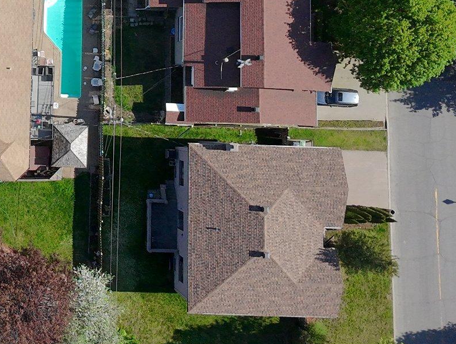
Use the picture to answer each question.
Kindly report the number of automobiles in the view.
1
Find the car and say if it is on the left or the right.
right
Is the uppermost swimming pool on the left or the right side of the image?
left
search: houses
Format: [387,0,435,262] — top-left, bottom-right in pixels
[0,0,33,182]
[176,143,349,318]
[146,0,338,128]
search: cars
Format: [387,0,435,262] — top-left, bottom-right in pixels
[318,89,359,109]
